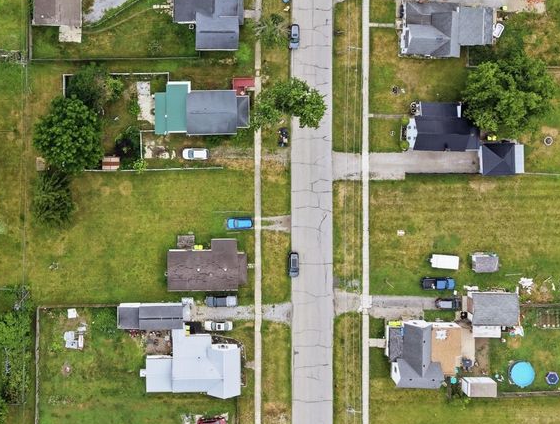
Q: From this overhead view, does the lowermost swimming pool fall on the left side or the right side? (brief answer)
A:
right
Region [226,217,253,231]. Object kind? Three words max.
car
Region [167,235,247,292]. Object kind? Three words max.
house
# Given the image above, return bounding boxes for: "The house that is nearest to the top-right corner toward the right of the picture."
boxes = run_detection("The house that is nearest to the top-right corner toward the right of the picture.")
[400,3,494,58]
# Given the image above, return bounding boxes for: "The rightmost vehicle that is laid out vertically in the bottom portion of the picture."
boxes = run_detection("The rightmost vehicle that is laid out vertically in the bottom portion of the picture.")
[288,251,301,279]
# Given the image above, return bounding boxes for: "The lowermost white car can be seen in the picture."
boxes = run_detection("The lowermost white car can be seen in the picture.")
[205,319,233,333]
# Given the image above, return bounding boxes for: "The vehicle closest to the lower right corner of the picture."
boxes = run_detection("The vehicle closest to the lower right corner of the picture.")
[435,298,461,311]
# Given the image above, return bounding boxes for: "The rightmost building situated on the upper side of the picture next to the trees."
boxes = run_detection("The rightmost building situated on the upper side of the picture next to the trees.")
[475,142,525,175]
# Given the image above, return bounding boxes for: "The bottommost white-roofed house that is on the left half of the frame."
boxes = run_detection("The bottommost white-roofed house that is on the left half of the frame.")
[140,328,241,400]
